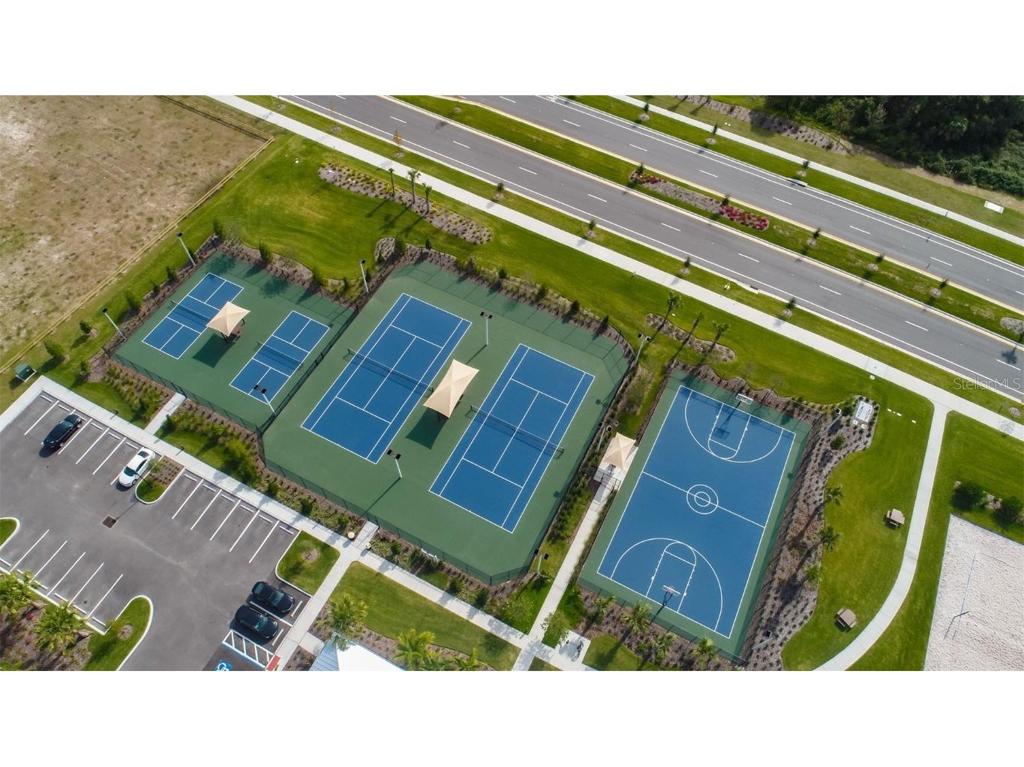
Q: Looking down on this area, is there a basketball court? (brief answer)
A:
Yes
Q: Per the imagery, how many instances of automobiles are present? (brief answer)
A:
4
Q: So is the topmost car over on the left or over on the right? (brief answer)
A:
left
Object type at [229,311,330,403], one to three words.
sports court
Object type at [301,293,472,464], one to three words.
tennis court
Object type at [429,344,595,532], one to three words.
tennis court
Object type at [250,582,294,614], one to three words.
car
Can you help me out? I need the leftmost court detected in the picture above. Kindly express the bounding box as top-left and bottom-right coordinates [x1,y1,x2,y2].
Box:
[142,272,243,359]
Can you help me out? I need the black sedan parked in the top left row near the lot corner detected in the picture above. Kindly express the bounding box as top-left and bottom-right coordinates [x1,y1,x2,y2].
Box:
[42,416,82,452]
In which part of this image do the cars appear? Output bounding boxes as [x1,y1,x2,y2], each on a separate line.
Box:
[250,582,294,614]
[117,449,155,488]
[42,416,82,452]
[233,605,279,641]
